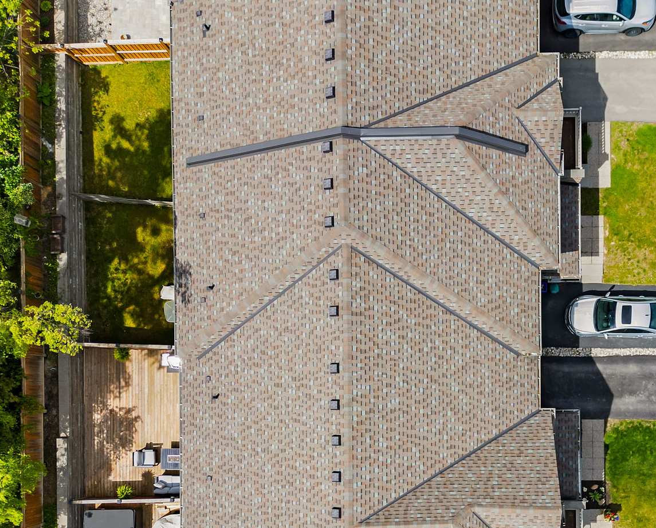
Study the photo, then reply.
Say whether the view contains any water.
No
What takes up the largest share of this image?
buildings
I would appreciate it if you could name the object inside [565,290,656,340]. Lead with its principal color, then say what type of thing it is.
white car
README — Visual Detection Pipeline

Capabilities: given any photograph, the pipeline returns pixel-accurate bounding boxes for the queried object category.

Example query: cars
[551,0,655,34]
[565,290,656,340]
